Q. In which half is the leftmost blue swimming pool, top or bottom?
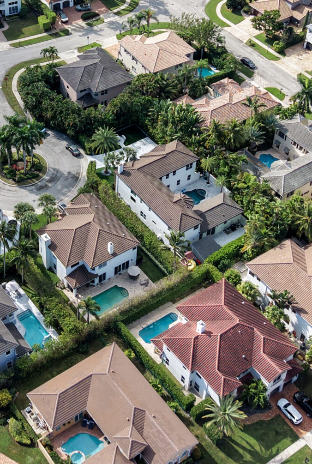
bottom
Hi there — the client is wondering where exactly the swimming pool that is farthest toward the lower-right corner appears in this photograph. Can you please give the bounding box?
[138,312,179,344]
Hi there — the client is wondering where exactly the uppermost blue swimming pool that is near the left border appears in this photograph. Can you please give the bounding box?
[14,307,51,349]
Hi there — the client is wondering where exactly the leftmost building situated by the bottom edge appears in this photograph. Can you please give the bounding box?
[28,345,213,464]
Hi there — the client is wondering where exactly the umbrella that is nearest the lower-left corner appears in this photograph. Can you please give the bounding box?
[125,265,142,278]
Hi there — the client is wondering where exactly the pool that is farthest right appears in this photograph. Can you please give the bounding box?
[257,152,278,169]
